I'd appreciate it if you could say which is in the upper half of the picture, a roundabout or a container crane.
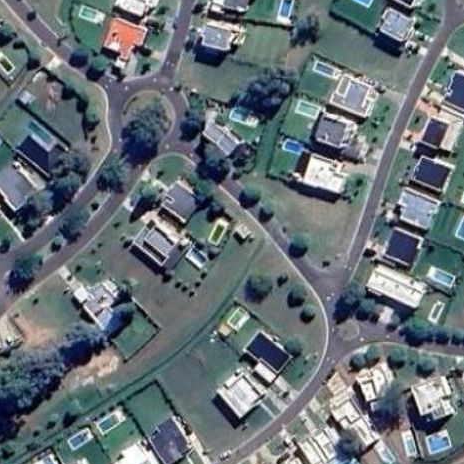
roundabout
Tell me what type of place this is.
residential area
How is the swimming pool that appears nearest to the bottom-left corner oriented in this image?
at an angle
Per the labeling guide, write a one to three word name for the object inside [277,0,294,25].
swimming pool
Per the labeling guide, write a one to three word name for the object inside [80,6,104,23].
swimming pool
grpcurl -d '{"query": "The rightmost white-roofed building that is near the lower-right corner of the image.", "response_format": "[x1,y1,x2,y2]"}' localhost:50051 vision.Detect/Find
[412,374,462,420]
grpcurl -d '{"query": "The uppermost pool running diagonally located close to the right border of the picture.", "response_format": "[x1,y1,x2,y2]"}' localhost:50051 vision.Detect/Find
[428,265,456,289]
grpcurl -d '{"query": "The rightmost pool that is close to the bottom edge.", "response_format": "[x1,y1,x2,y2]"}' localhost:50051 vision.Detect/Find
[425,430,453,454]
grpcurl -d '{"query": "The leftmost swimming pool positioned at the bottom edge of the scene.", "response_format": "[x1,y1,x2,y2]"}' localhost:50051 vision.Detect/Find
[68,427,94,451]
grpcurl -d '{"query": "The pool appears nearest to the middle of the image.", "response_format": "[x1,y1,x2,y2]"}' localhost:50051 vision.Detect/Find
[208,221,230,246]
